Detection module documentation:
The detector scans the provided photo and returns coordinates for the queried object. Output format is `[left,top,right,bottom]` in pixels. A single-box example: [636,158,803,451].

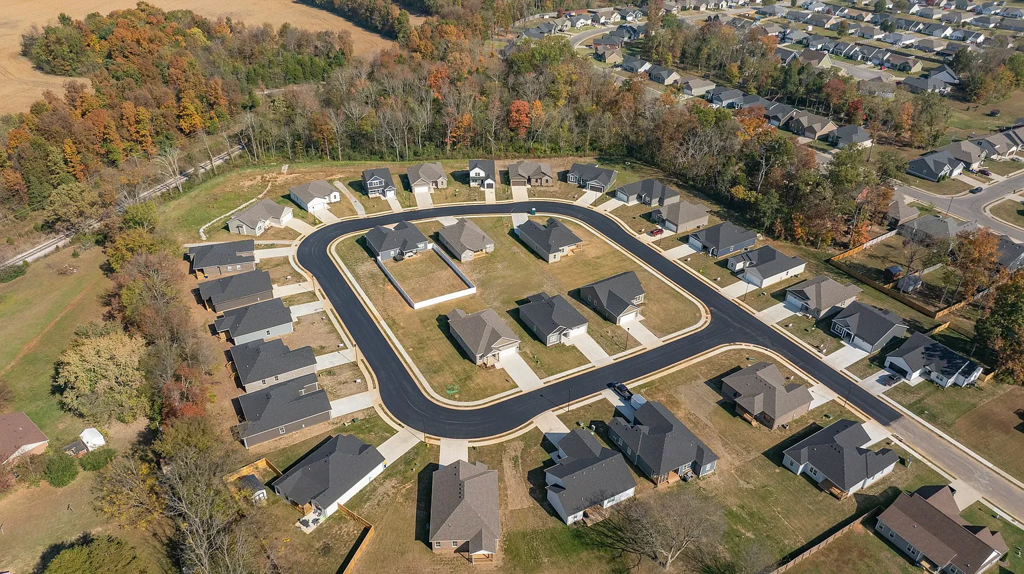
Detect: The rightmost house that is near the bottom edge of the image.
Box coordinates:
[875,482,1014,574]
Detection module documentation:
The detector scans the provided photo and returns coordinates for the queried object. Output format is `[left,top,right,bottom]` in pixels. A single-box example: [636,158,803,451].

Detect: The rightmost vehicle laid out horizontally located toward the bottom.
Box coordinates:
[881,372,907,386]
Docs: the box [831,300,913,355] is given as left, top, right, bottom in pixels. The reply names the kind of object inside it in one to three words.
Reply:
house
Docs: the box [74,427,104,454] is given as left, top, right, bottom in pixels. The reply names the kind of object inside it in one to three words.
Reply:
shed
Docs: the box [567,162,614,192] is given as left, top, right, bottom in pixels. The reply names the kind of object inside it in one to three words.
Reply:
house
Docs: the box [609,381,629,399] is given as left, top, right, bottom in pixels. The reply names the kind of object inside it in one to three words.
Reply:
vehicle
